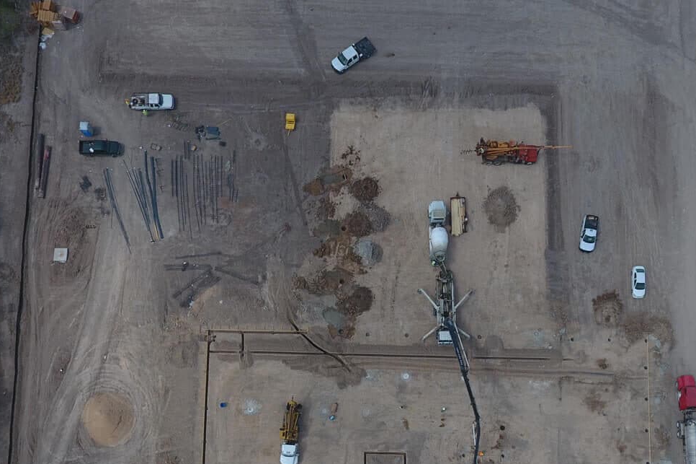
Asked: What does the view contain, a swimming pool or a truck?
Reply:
truck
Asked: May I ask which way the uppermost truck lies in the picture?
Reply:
diagonally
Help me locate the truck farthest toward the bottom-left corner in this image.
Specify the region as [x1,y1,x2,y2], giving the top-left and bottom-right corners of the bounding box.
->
[277,390,298,464]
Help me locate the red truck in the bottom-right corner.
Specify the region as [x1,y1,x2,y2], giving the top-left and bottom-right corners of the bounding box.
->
[671,374,696,439]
